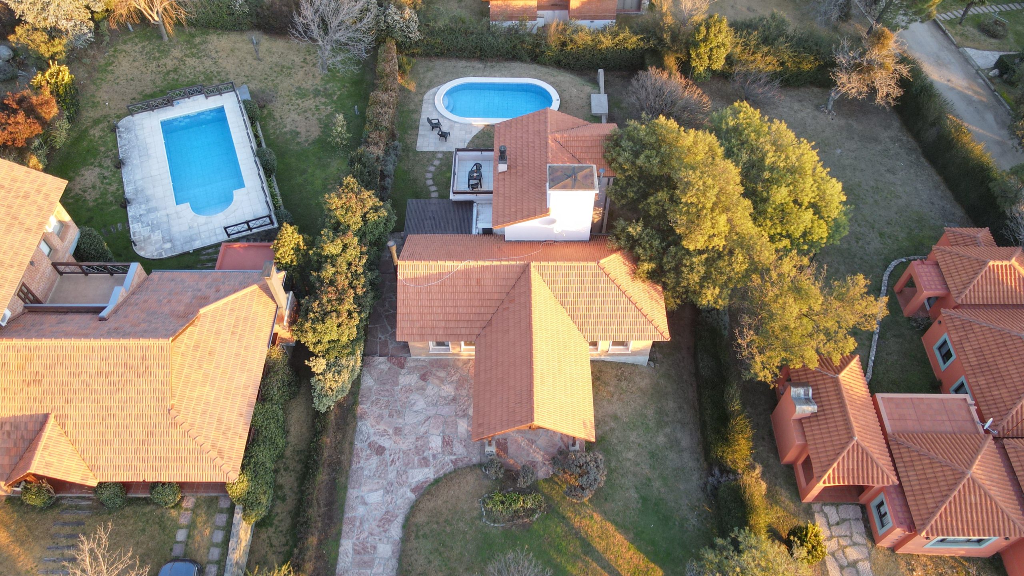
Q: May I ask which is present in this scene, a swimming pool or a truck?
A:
swimming pool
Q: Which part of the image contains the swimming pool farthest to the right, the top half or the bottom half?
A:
top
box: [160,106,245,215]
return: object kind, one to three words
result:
swimming pool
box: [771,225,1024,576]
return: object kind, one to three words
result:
house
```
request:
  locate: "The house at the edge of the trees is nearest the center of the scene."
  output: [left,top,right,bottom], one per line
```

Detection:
[387,108,671,460]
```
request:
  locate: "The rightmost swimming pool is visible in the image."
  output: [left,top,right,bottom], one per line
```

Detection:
[434,78,559,124]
